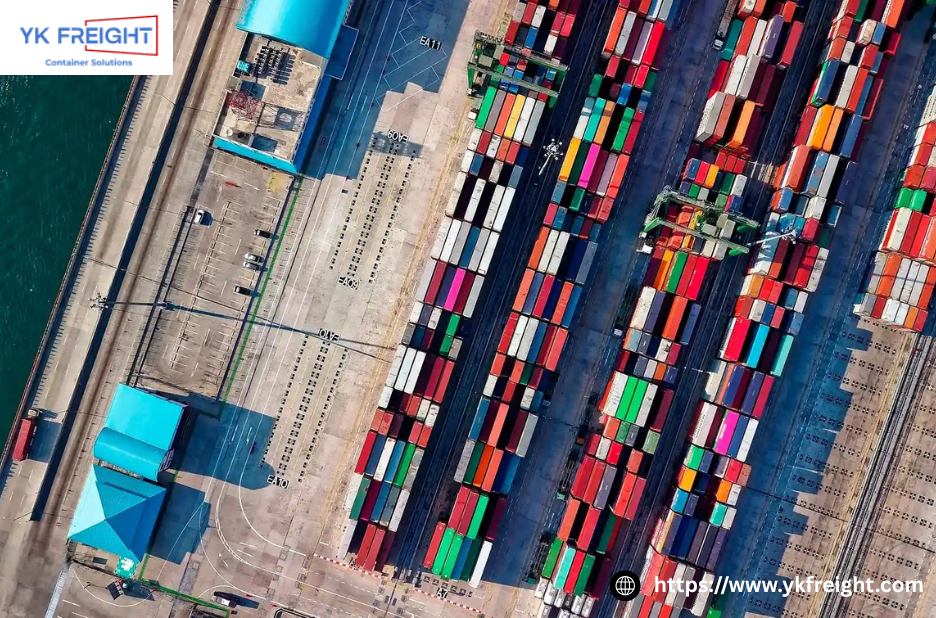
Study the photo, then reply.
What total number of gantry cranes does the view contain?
2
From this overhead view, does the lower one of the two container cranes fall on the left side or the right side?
right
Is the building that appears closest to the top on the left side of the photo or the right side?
left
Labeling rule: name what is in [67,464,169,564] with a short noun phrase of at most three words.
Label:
building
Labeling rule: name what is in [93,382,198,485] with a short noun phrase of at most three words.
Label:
building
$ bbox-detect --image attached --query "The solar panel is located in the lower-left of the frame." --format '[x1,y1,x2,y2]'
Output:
[109,581,130,600]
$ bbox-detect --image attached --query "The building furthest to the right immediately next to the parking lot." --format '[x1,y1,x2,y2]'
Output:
[211,0,363,176]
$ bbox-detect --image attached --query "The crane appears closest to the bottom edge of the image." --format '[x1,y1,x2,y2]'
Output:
[636,186,766,266]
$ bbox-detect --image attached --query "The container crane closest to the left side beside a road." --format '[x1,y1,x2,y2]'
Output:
[464,34,574,129]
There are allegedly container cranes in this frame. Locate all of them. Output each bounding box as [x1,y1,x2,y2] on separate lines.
[464,34,574,129]
[636,186,766,266]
